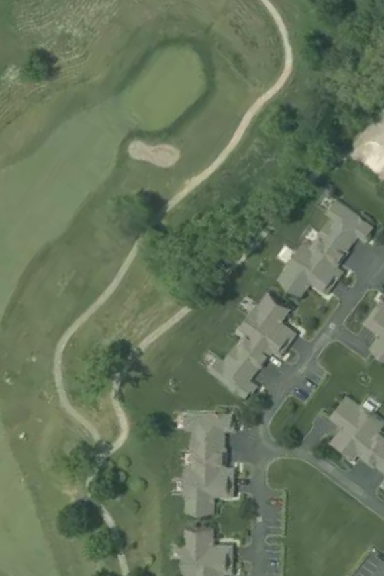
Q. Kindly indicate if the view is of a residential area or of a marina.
residential area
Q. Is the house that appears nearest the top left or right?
right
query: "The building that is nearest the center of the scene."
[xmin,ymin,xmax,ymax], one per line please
[200,287,298,399]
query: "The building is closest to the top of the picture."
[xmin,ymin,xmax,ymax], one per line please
[274,194,379,299]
